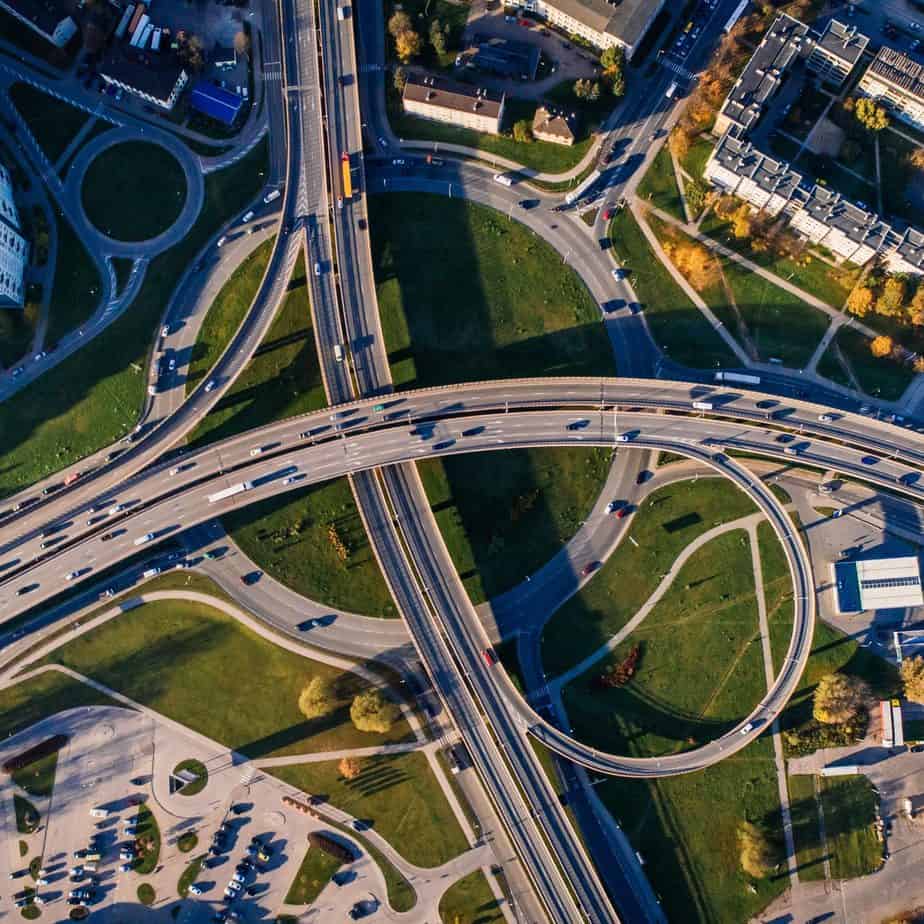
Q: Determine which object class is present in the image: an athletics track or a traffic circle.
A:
traffic circle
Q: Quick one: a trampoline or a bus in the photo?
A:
bus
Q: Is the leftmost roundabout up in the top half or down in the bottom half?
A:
top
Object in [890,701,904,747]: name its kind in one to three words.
vehicle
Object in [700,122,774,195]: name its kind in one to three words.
building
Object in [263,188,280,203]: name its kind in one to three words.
vehicle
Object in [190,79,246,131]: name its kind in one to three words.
shed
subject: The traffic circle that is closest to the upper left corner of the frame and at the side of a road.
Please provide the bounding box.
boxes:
[64,122,204,260]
